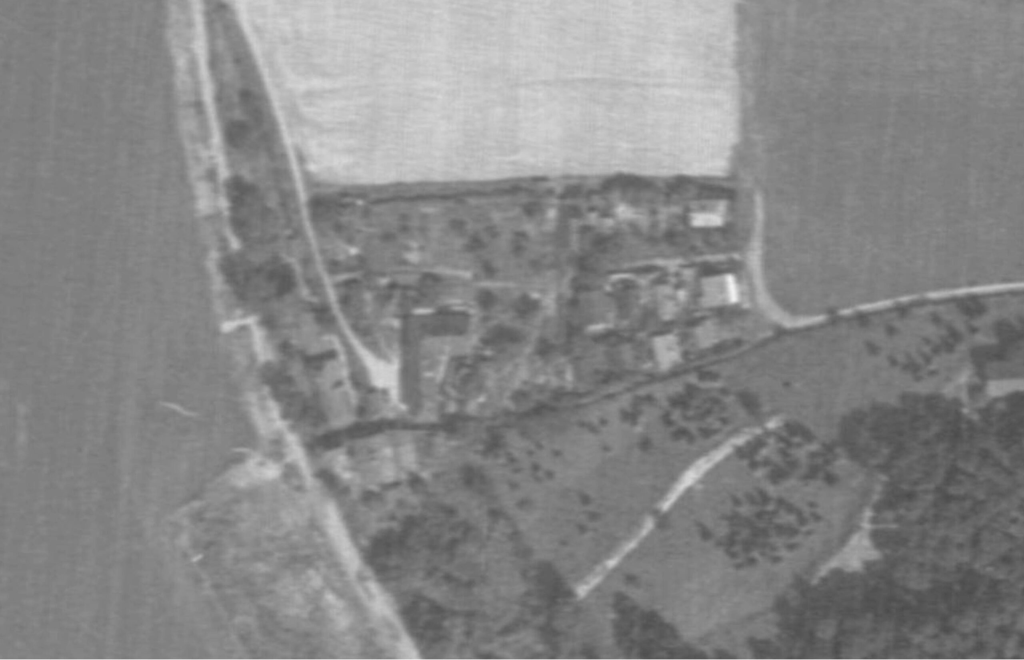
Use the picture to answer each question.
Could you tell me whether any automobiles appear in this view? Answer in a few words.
No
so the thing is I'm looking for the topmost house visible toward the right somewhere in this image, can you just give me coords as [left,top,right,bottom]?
[690,200,726,226]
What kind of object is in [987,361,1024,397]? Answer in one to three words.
barn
